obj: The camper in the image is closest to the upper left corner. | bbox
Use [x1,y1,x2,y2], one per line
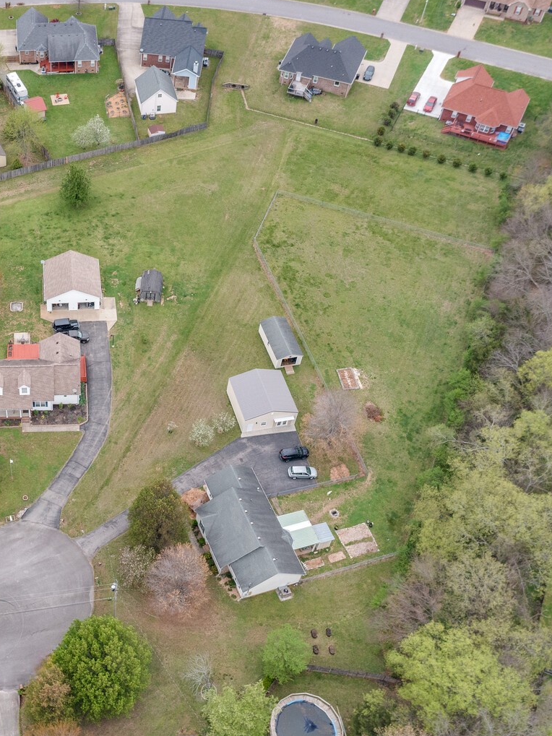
[8,73,26,108]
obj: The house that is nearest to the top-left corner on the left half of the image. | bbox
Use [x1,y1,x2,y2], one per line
[15,5,96,71]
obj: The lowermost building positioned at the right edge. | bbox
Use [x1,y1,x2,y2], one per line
[439,65,534,135]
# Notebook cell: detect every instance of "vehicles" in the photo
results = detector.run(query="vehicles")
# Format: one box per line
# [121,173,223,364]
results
[406,94,420,107]
[287,465,318,480]
[278,446,310,462]
[362,65,373,79]
[424,97,436,112]
[8,73,26,108]
[59,328,90,344]
[53,317,80,331]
